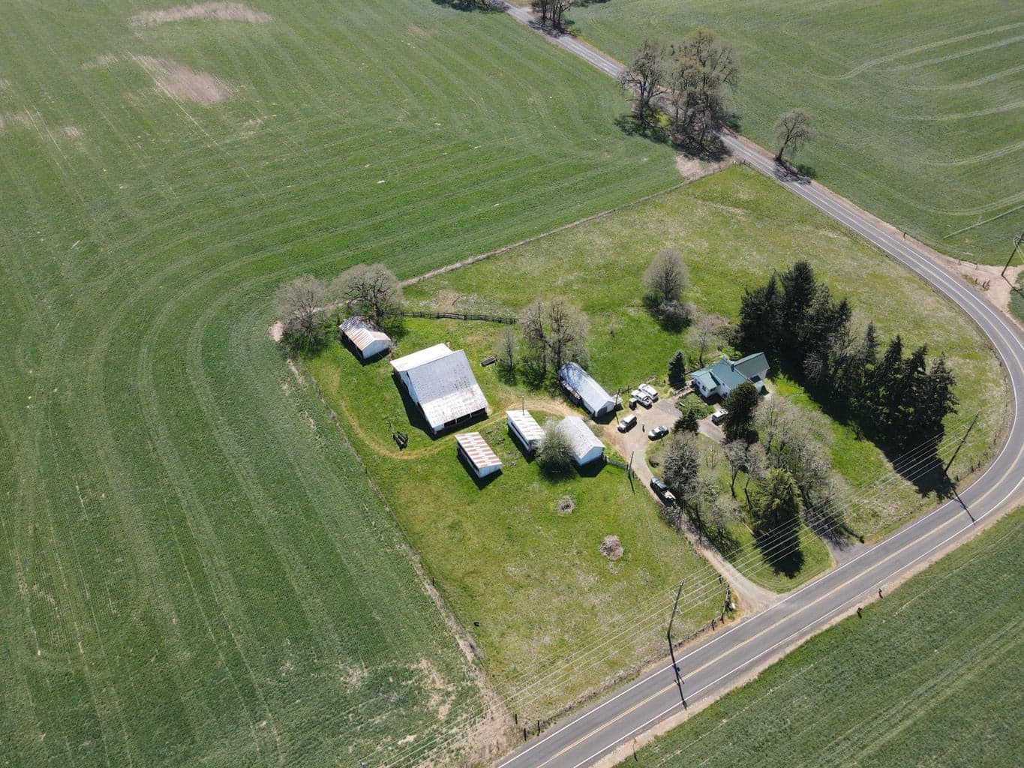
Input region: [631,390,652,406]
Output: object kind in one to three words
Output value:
vehicle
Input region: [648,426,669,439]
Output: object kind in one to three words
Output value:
vehicle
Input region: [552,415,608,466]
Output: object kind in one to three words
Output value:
shed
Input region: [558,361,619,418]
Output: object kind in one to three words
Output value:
building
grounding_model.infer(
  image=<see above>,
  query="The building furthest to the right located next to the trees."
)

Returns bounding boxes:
[688,352,773,399]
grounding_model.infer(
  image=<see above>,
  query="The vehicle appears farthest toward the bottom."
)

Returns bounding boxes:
[651,480,676,503]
